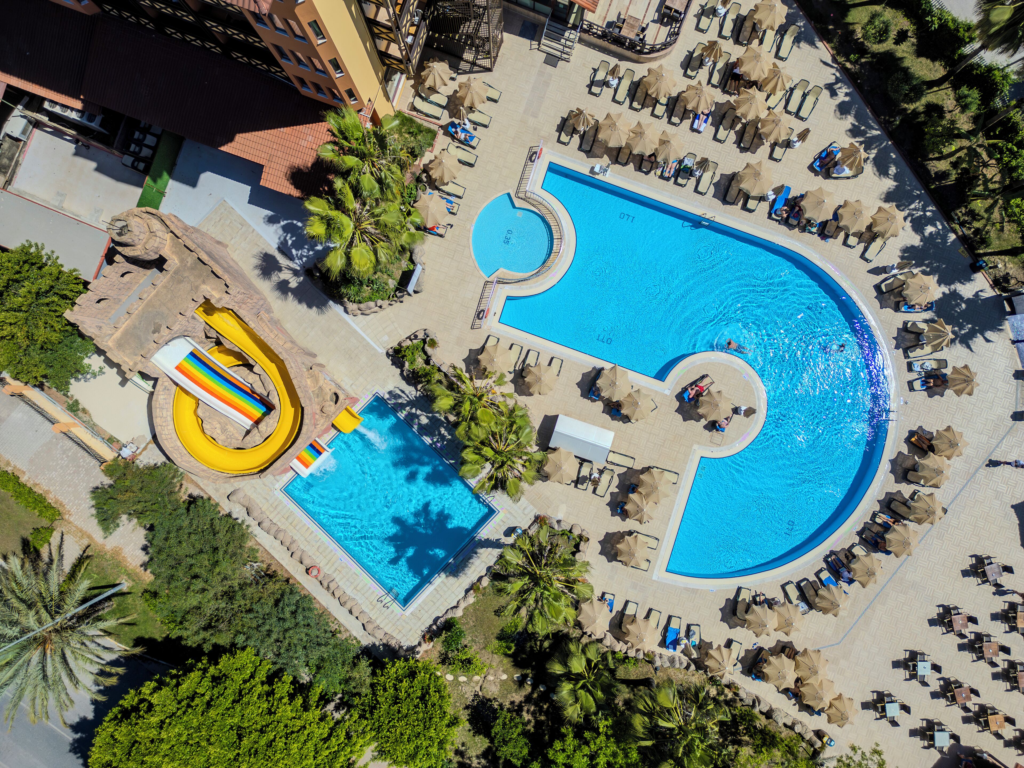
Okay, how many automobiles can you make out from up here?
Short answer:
0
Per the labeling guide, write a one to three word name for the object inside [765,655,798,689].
umbrella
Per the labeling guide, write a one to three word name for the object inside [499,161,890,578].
swimming pool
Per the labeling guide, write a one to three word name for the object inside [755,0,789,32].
umbrella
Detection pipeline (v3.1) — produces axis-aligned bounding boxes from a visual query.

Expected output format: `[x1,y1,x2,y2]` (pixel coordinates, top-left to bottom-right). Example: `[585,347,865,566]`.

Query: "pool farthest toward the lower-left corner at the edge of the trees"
[283,395,497,607]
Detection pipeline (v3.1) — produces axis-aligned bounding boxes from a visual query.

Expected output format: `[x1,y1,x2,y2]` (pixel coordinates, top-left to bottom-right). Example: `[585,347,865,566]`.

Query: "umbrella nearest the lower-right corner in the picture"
[824,696,861,735]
